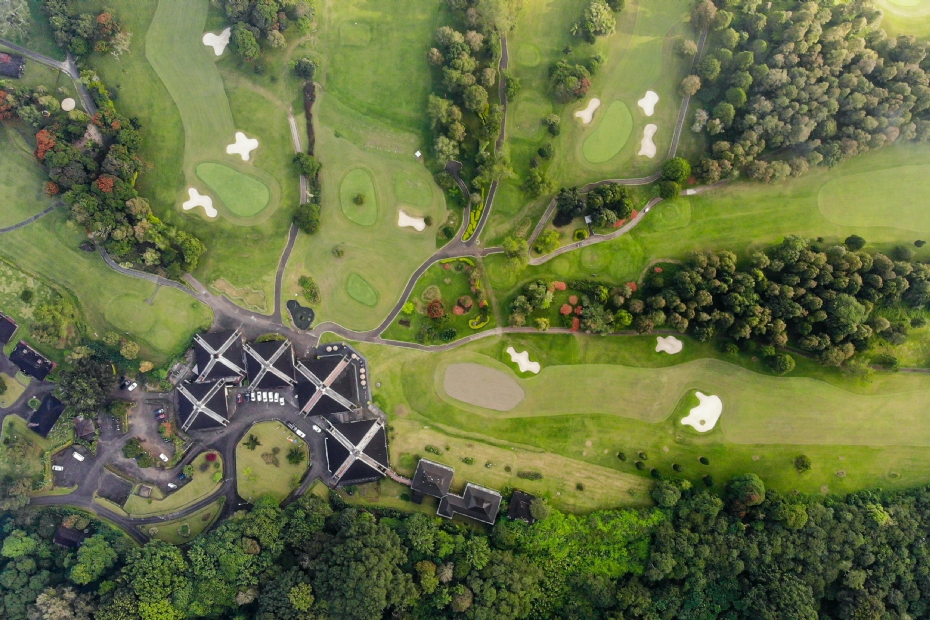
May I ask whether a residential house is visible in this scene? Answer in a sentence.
Yes, the photo shows a residential house.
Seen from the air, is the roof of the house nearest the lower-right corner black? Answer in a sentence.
Yes, the roof of the house nearest the lower-right corner is black.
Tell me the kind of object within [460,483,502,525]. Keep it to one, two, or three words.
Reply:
house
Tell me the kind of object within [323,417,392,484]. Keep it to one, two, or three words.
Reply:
building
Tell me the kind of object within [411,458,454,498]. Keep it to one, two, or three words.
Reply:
house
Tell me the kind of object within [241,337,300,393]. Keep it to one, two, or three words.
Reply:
building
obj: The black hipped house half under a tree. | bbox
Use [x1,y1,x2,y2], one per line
[508,488,535,523]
